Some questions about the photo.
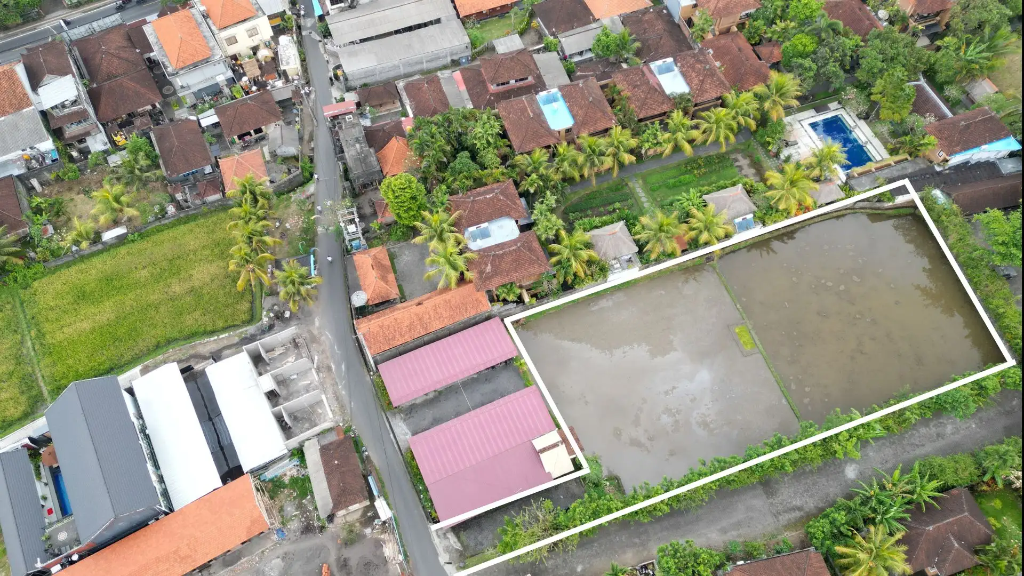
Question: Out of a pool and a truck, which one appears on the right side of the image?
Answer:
pool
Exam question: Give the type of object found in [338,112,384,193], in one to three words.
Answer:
house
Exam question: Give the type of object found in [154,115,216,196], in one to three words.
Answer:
house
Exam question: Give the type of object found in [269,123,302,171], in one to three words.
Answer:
shed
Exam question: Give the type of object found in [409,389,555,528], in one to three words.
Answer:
shed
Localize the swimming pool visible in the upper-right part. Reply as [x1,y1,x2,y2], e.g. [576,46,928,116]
[781,103,893,181]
